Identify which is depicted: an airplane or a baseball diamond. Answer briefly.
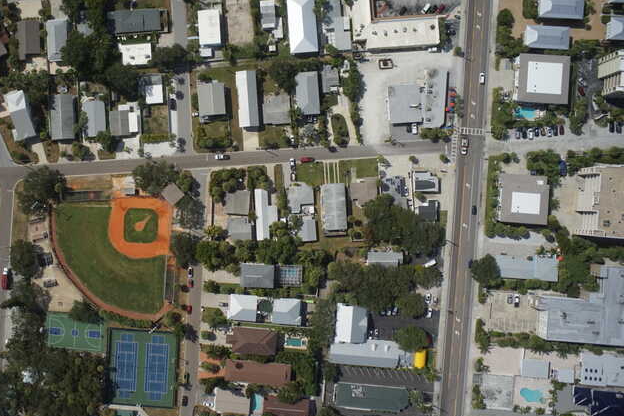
baseball diamond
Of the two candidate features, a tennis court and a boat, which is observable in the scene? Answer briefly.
tennis court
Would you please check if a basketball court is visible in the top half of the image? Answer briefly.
No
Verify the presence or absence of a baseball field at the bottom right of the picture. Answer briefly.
No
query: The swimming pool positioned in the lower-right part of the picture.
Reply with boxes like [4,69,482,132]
[519,387,545,403]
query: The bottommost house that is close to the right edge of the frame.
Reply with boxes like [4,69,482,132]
[569,384,624,416]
